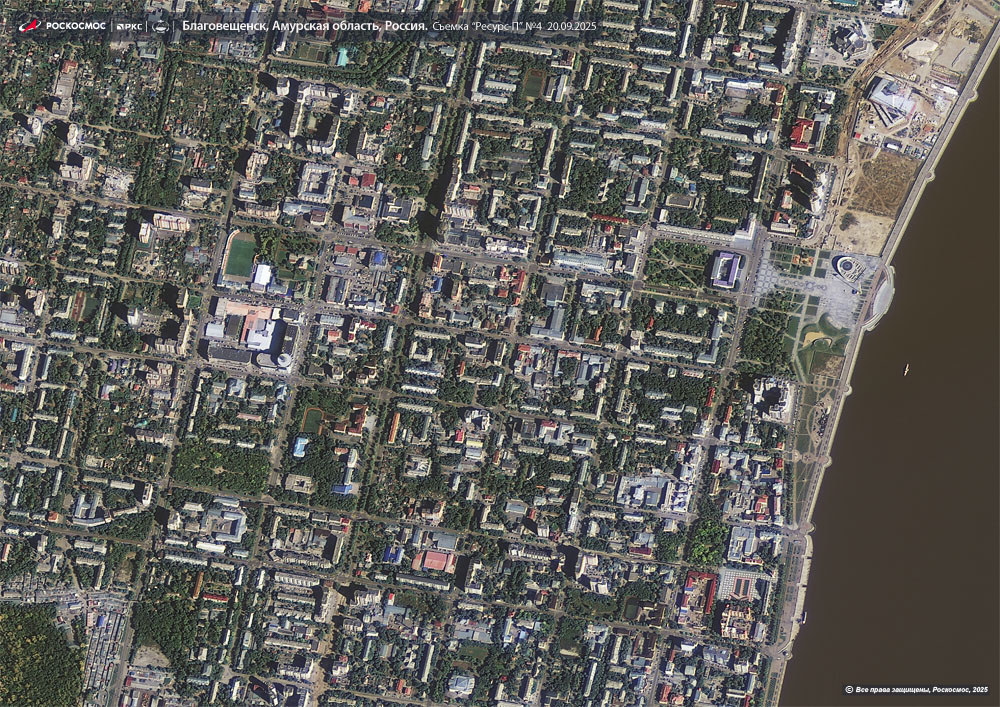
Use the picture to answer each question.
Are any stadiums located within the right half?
No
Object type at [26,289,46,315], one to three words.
building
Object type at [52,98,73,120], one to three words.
building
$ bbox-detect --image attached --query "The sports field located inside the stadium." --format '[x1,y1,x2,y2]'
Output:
[226,238,256,277]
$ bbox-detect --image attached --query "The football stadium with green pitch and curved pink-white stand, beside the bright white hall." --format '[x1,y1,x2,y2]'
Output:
[221,229,259,284]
